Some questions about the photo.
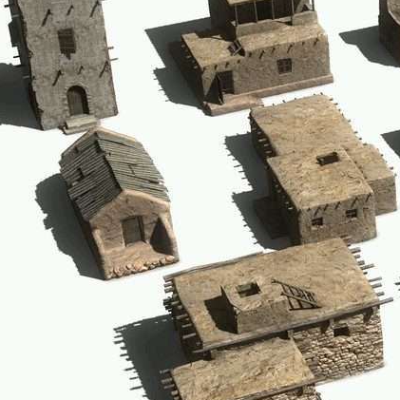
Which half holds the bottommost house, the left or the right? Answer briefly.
right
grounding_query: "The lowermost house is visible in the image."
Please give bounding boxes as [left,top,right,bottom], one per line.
[157,237,397,400]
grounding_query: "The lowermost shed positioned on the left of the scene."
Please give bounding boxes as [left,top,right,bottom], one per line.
[60,126,183,279]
